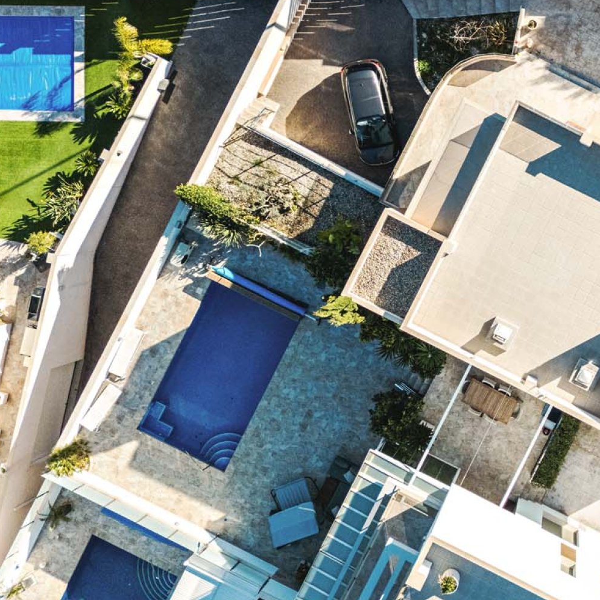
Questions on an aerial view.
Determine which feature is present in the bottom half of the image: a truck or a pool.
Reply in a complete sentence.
Visible in the bottom half of the image is a pool.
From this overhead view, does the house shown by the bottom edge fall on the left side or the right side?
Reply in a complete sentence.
The house shown by the bottom edge sits on the right side.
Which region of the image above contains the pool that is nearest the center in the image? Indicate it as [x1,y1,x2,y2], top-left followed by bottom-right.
[138,279,305,471]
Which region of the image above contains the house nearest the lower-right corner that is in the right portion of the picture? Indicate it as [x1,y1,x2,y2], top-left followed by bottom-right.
[397,487,600,600]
